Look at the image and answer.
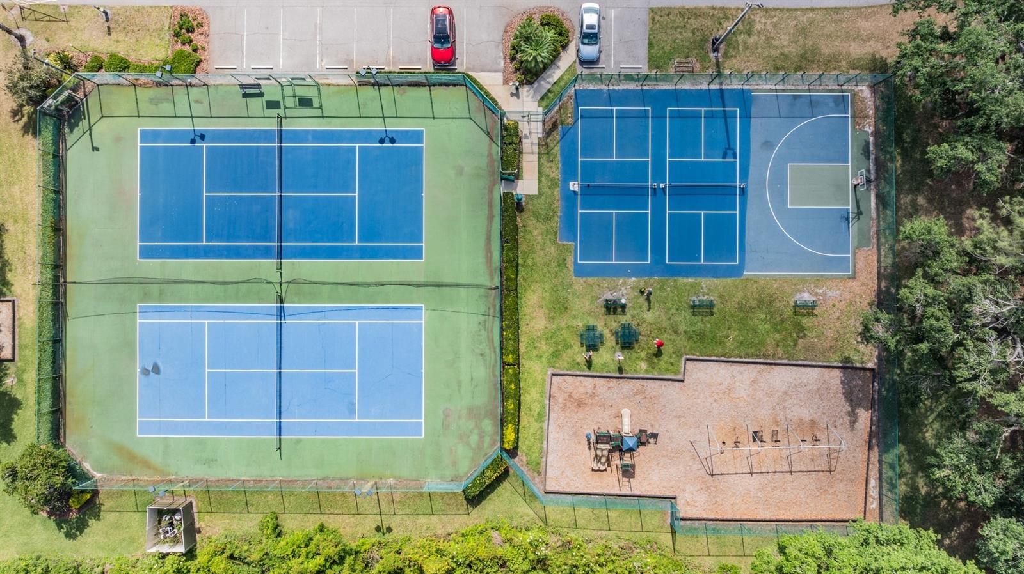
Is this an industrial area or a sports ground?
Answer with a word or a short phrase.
sports ground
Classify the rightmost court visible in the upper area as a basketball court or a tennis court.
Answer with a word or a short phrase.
basketball court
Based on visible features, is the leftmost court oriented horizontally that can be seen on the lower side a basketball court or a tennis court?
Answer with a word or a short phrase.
tennis court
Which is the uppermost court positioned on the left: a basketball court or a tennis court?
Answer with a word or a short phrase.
tennis court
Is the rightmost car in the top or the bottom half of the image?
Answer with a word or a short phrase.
top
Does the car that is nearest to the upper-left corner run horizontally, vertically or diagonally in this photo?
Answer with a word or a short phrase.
vertically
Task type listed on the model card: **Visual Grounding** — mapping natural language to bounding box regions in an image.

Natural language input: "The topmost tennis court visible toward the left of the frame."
[66,85,500,282]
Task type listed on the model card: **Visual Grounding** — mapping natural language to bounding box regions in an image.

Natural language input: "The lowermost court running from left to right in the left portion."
[66,282,500,479]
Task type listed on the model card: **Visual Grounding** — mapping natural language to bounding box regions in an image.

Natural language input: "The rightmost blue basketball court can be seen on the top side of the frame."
[743,88,871,277]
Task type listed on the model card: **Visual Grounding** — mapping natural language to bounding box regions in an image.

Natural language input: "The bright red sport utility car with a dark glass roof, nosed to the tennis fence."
[428,5,457,67]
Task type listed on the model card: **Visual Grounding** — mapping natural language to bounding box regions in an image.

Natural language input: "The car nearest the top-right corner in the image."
[576,1,603,63]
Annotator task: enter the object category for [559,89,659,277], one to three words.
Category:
sports court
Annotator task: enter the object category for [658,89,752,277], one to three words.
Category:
sports court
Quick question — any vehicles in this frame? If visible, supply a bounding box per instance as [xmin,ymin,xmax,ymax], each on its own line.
[576,1,603,63]
[428,5,457,67]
